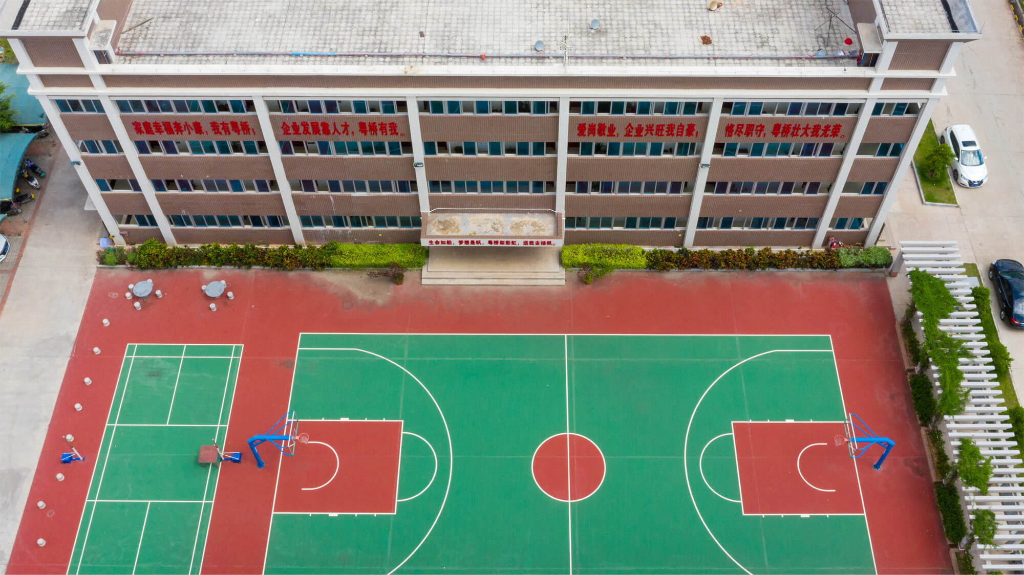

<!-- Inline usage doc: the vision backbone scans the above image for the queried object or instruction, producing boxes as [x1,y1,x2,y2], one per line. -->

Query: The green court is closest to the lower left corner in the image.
[66,343,244,575]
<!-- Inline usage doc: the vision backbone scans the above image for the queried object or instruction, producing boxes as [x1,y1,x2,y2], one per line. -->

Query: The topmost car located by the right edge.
[943,119,993,188]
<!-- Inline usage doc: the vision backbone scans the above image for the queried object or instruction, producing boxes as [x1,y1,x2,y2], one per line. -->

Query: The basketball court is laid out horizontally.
[263,334,876,575]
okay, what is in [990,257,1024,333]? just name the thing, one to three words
car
